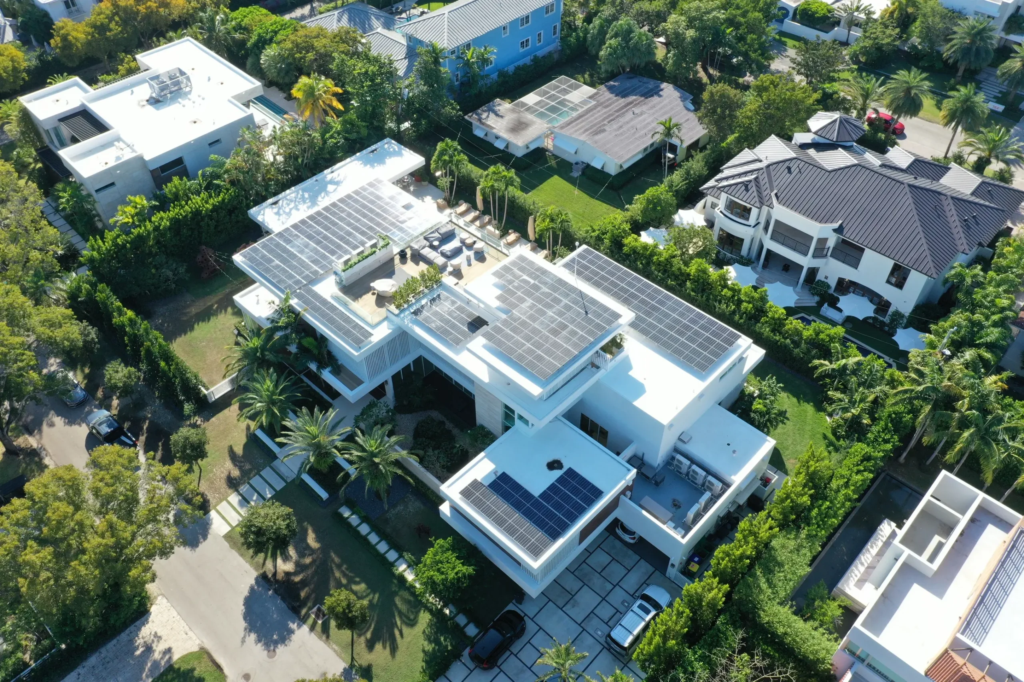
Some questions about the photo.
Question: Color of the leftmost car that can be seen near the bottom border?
black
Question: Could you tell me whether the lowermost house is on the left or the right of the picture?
right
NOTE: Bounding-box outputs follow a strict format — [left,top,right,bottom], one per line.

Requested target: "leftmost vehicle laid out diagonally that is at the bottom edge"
[467,606,535,676]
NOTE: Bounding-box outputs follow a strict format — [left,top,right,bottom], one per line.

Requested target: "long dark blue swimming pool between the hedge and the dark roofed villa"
[787,307,877,366]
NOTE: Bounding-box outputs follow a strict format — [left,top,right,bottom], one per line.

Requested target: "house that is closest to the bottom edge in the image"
[817,471,1024,682]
